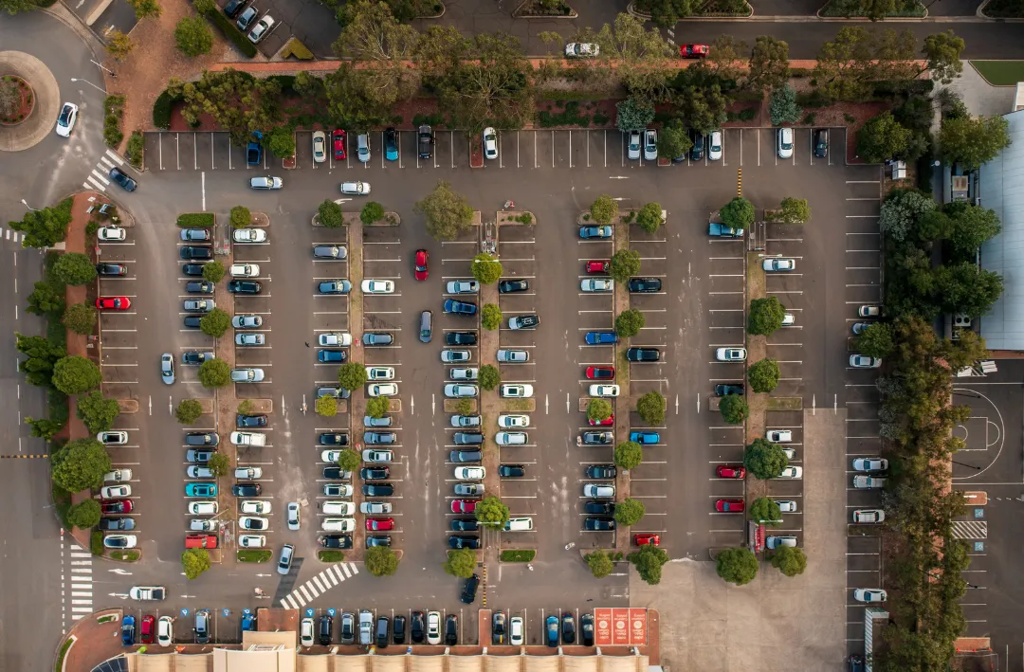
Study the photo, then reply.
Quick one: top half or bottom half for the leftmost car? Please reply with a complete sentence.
Seen from above, the leftmost car lies in the top half of the view.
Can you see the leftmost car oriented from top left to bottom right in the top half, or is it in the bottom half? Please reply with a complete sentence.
Seen from above, the leftmost car oriented from top left to bottom right lies in the top half of the view.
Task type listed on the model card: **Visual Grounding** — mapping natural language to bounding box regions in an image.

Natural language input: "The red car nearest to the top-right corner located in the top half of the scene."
[680,42,710,58]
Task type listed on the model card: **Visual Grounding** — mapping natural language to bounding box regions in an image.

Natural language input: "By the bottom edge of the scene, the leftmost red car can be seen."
[139,614,156,644]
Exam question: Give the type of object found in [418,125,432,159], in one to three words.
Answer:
vehicle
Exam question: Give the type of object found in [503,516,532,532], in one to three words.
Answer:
vehicle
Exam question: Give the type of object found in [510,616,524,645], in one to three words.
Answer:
car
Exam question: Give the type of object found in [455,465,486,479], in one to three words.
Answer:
car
